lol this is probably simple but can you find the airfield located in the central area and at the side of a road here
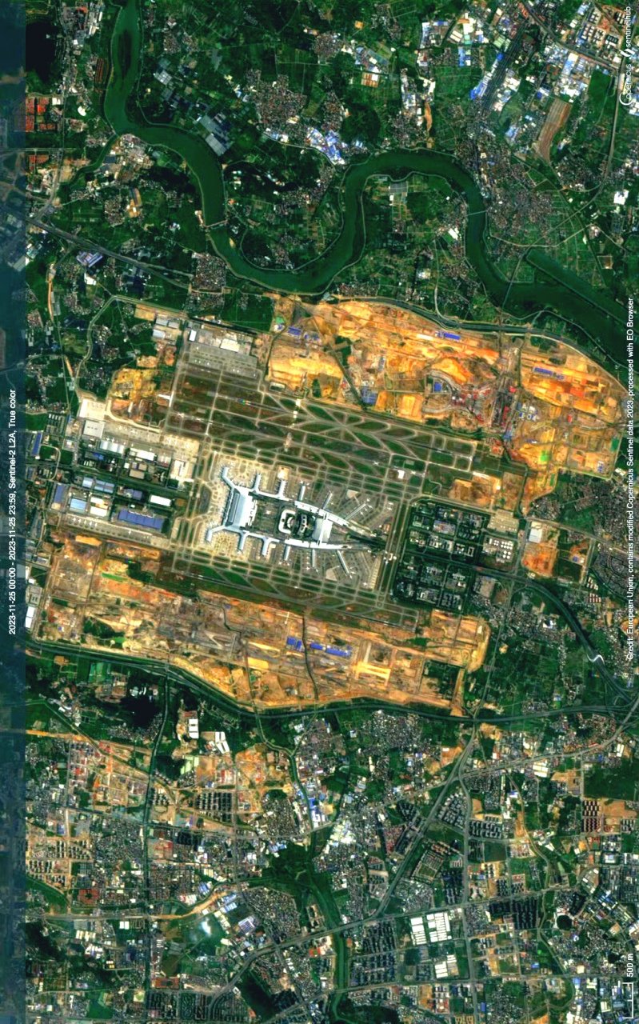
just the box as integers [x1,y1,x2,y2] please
[66,342,477,632]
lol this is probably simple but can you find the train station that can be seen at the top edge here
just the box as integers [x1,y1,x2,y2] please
[481,21,530,112]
